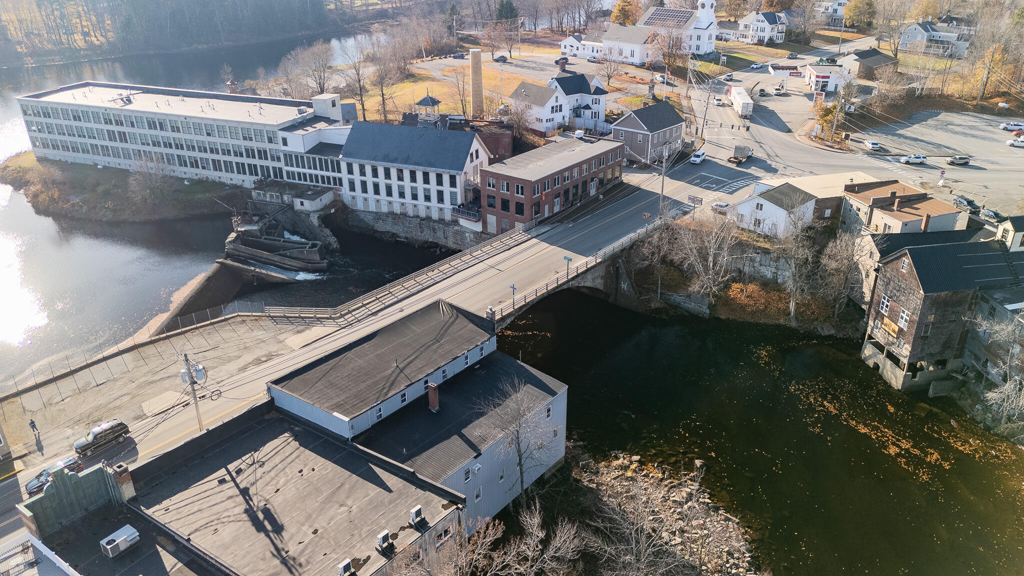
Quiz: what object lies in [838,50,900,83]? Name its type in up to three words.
barn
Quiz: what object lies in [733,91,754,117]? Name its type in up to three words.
truck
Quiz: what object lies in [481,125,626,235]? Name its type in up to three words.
building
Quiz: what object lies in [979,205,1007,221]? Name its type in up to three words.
car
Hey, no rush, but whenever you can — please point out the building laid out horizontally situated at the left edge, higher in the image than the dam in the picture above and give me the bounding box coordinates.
[18,77,344,192]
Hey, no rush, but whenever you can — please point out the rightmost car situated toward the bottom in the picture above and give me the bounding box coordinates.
[66,419,134,464]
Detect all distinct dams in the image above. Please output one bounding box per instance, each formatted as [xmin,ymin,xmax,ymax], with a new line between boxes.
[149,259,303,334]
